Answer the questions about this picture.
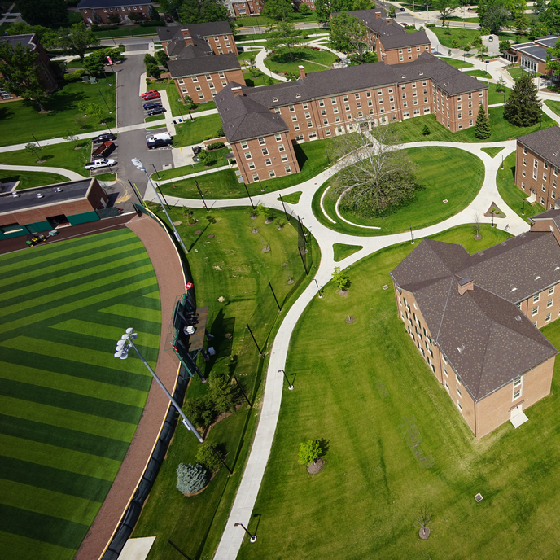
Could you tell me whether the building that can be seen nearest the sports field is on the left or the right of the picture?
left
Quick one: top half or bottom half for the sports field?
bottom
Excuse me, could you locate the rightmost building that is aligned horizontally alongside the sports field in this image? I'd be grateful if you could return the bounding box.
[212,51,490,188]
